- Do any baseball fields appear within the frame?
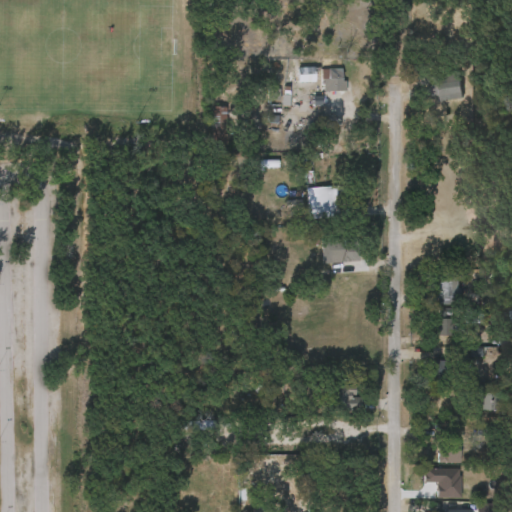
No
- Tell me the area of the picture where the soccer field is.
top left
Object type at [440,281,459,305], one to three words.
house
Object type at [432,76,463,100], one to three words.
house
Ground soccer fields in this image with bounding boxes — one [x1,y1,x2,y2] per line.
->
[0,0,174,111]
